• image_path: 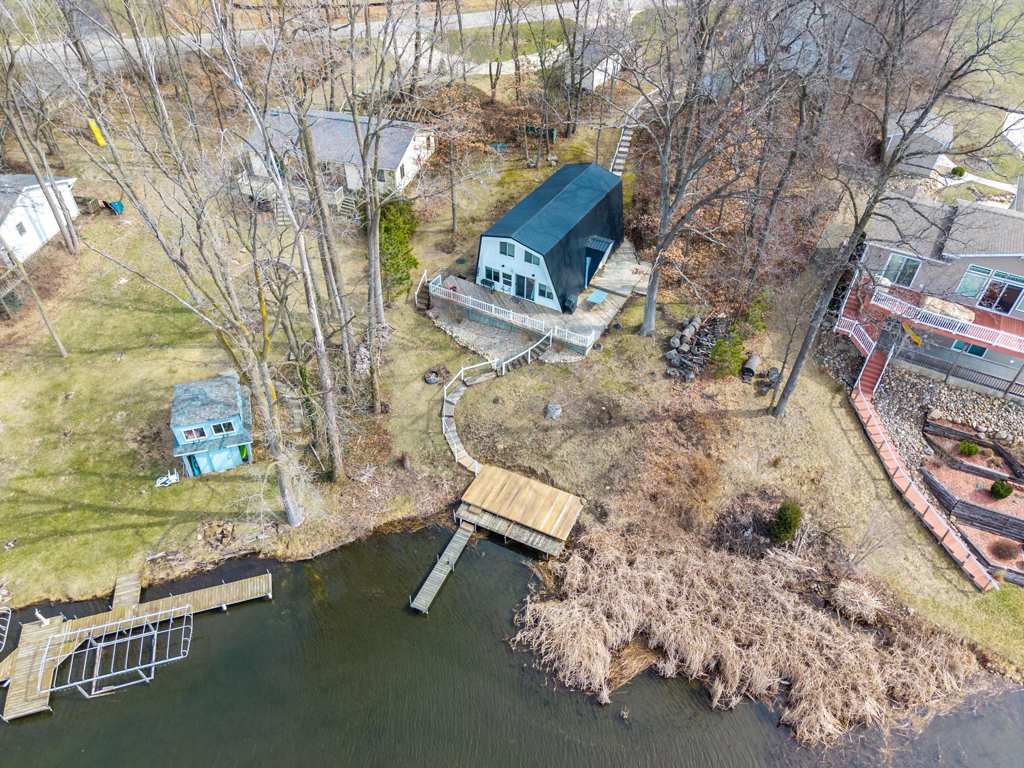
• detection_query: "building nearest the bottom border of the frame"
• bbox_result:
[461,465,584,558]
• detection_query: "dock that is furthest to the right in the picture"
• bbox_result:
[454,500,572,560]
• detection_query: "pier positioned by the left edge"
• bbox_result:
[0,570,273,725]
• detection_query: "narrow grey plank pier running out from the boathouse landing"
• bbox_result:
[409,524,477,621]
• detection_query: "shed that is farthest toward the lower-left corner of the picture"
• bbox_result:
[167,372,263,479]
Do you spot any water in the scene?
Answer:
Yes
